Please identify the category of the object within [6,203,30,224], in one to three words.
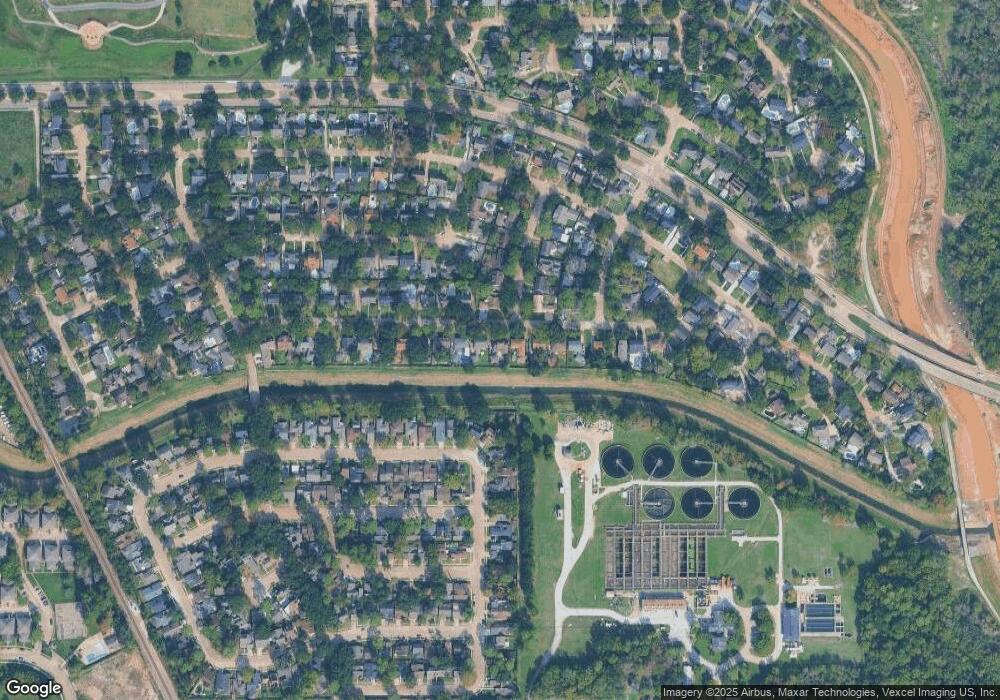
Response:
house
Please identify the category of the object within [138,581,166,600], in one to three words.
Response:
house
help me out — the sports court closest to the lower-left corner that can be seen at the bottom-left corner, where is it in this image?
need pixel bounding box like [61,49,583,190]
[55,602,88,639]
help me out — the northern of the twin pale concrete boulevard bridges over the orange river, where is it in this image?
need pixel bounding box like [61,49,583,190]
[834,293,1000,387]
